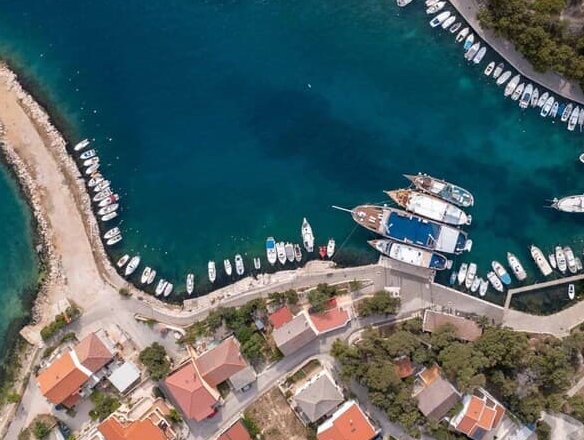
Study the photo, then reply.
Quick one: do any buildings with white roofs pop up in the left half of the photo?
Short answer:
Yes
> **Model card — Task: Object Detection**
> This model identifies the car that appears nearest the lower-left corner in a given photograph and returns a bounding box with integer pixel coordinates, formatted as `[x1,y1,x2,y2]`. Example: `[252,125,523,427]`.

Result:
[60,421,73,437]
